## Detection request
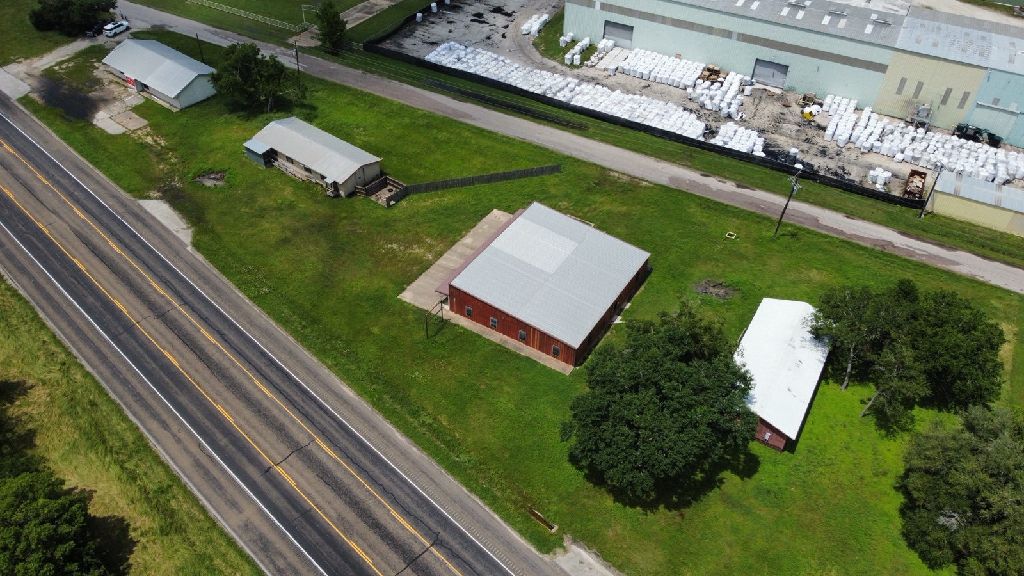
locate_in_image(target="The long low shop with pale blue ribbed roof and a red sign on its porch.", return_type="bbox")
[102,39,214,108]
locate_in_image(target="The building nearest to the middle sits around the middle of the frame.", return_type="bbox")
[435,199,650,366]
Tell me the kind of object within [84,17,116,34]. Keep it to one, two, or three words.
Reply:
vehicle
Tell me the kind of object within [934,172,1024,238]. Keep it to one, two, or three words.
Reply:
shed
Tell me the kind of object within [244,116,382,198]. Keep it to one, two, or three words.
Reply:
house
